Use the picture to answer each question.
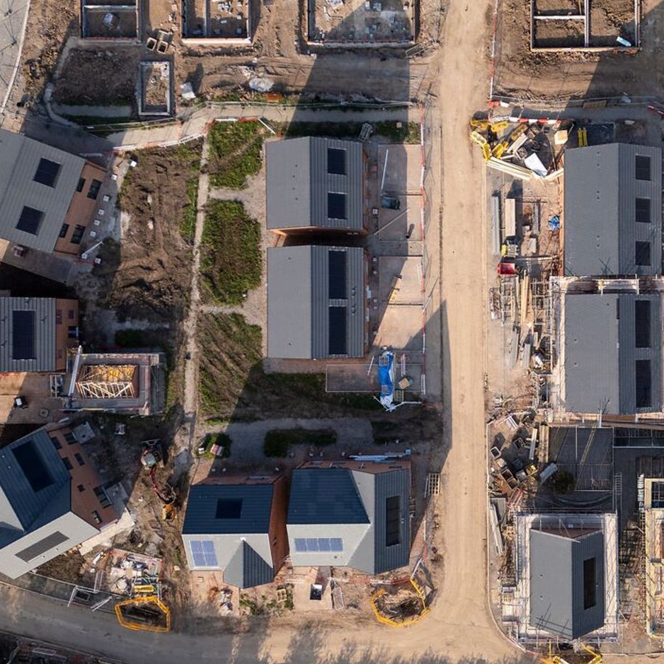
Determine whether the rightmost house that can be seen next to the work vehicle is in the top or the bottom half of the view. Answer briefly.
bottom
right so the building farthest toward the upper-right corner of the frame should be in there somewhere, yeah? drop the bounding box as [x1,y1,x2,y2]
[559,143,662,276]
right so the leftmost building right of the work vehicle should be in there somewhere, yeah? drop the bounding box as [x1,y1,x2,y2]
[181,476,284,590]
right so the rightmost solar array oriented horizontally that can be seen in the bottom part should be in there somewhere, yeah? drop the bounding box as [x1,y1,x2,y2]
[294,538,343,552]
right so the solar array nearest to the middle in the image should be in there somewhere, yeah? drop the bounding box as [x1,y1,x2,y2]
[329,307,346,353]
